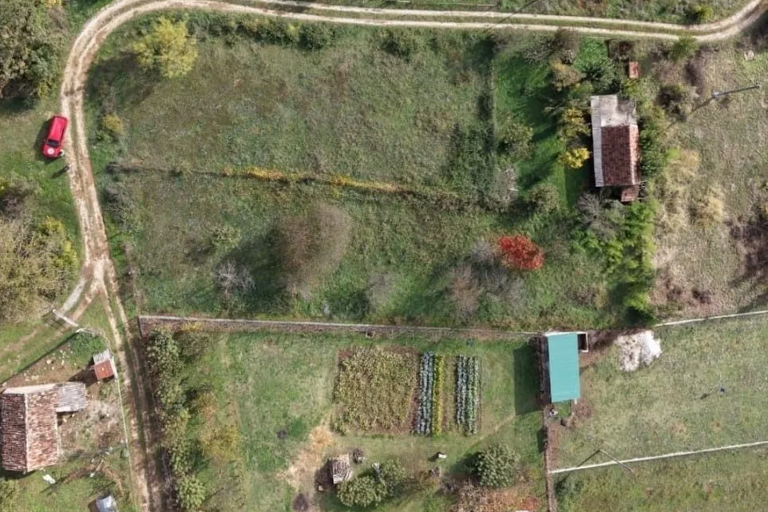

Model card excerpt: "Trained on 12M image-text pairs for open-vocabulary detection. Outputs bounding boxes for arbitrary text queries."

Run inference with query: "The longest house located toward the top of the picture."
[588,94,643,201]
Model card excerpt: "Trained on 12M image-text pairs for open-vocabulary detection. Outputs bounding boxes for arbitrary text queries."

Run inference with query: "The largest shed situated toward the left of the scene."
[1,376,92,474]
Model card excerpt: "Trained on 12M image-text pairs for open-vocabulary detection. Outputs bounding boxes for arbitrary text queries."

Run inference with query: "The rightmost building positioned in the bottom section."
[541,330,580,408]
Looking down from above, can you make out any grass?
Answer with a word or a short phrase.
Yes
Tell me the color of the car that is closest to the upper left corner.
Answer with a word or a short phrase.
red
